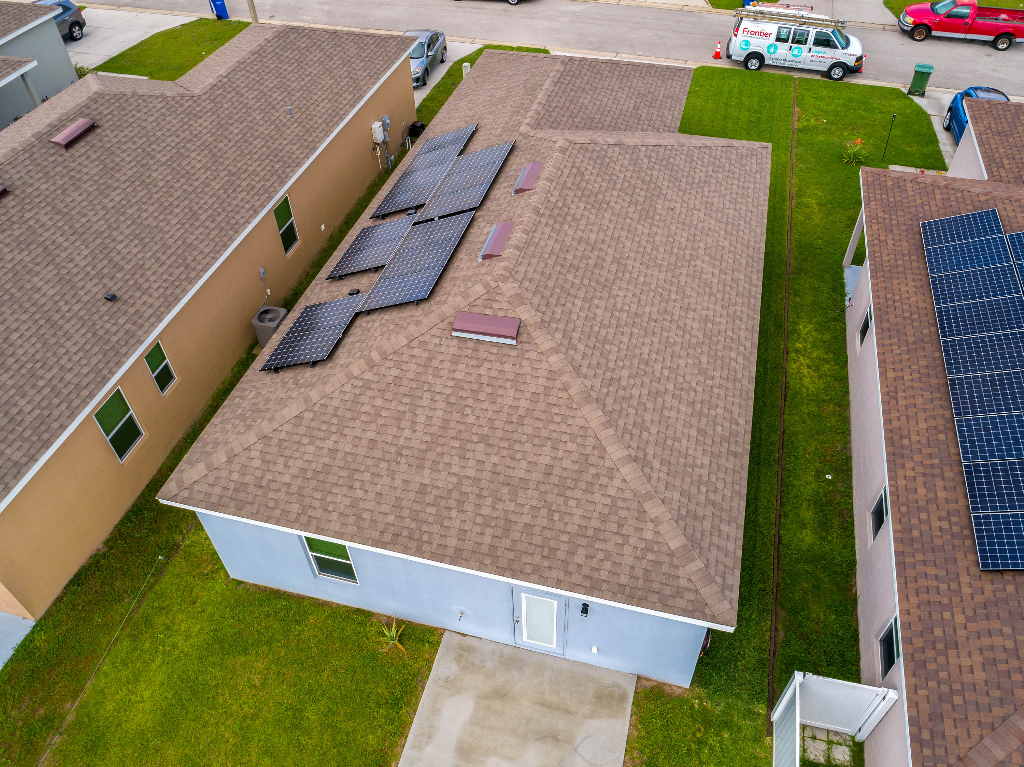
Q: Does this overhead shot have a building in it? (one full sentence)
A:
Yes, the frame does contain a building.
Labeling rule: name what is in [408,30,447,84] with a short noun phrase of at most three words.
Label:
car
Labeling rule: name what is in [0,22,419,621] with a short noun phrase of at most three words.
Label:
house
